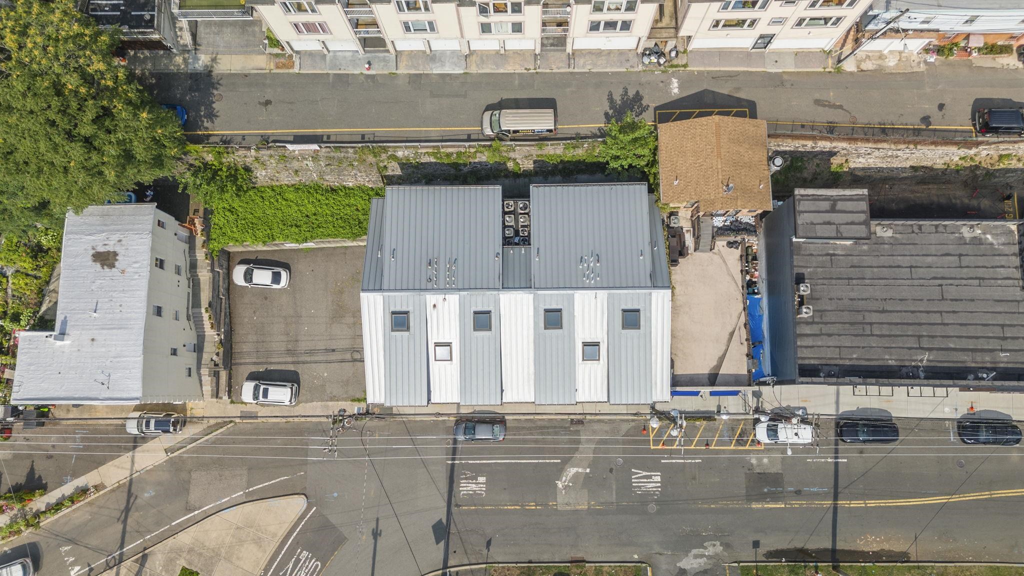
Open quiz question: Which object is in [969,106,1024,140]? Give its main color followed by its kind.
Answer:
black car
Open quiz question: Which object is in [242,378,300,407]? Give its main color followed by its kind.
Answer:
white car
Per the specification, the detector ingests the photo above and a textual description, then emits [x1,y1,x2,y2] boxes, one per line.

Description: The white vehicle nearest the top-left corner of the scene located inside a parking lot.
[235,262,291,288]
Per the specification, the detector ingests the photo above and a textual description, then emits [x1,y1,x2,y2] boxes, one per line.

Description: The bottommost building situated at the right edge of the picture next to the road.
[757,188,1024,384]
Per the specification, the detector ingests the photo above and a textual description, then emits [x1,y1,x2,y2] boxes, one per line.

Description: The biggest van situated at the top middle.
[483,107,556,145]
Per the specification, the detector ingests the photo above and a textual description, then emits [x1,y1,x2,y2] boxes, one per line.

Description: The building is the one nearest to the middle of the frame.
[359,180,671,407]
